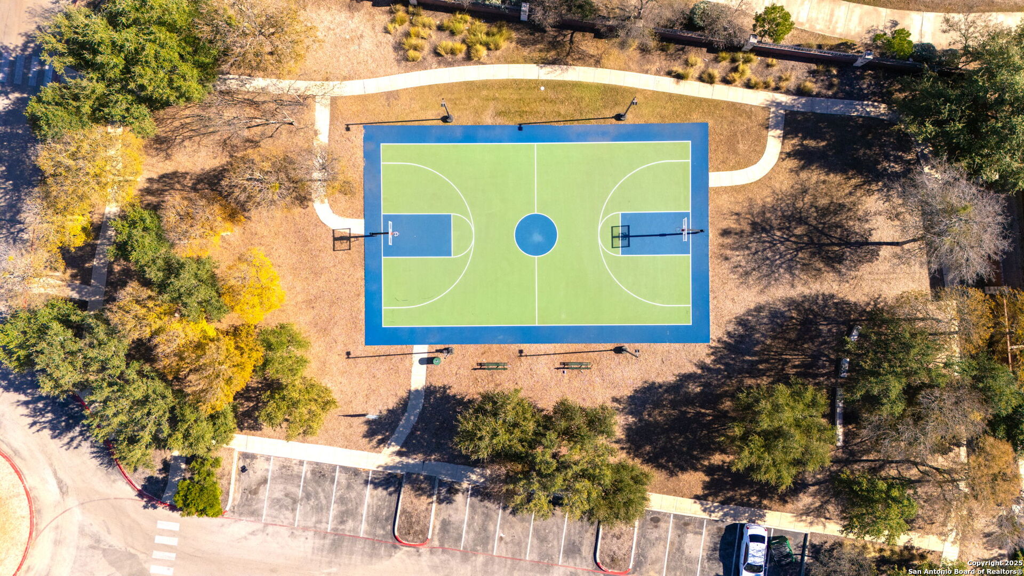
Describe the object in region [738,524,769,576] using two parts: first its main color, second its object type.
white car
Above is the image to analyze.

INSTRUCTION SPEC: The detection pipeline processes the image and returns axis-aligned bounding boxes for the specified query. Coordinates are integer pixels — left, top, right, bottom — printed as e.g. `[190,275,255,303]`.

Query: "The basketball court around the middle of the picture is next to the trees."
[364,123,709,345]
